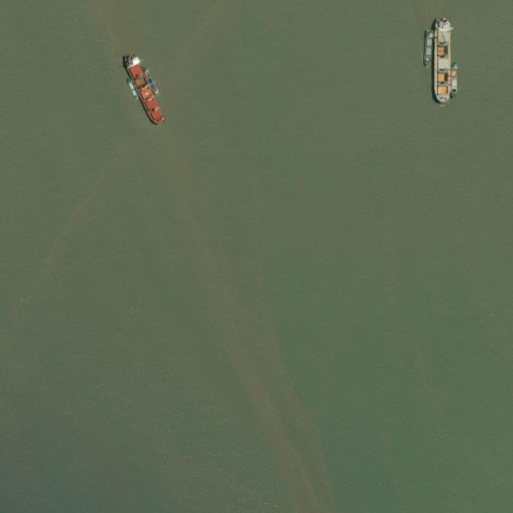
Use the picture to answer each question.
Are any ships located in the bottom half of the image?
No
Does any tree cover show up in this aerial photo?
No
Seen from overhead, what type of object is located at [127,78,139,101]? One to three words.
ship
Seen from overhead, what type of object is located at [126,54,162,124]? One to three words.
ship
